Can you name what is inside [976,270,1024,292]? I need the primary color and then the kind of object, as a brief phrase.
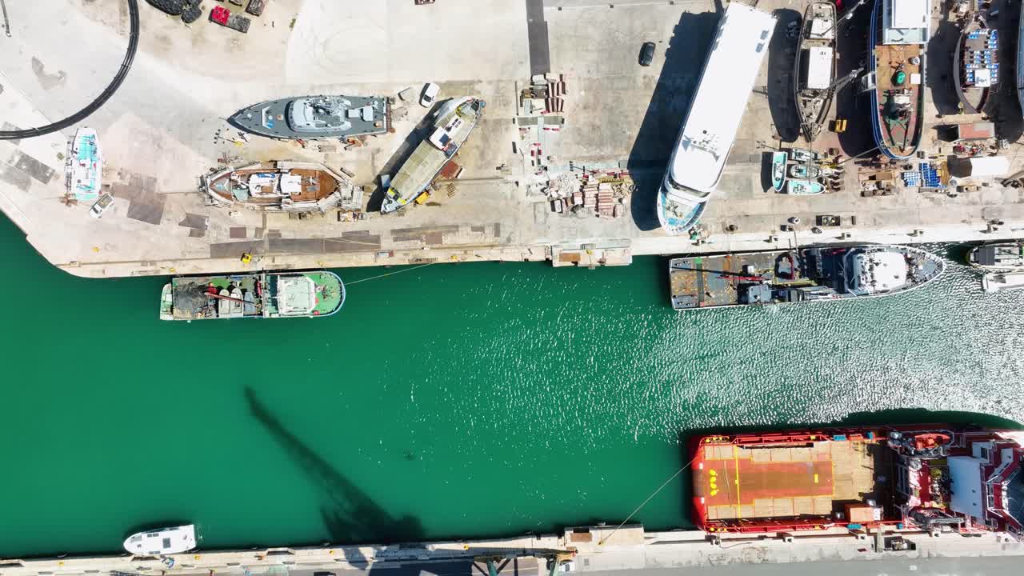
white boat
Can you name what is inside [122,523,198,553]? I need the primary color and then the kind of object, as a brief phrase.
white boat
